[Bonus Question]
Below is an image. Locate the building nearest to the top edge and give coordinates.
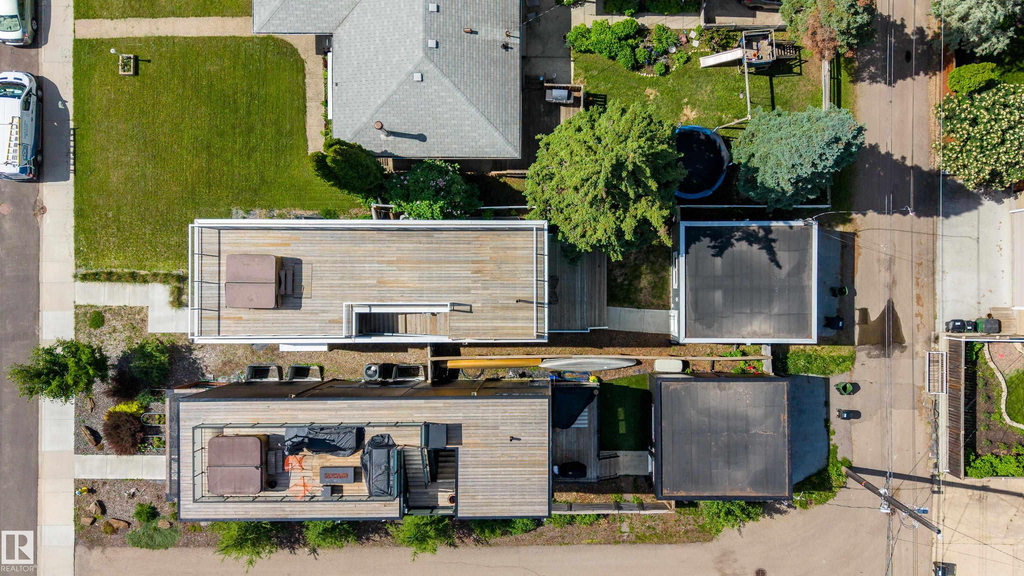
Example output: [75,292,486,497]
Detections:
[250,0,524,161]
